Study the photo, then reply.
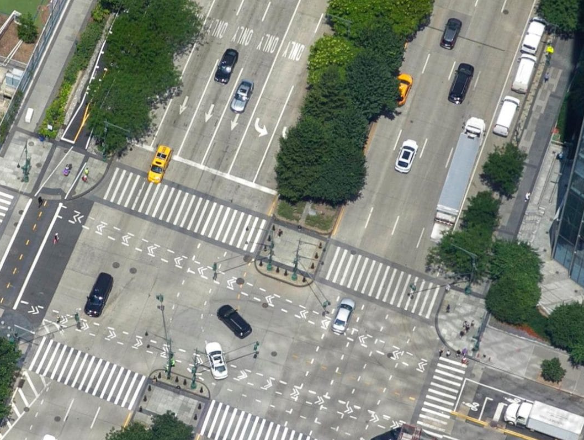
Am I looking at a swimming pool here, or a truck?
truck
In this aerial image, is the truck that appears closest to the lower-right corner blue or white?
white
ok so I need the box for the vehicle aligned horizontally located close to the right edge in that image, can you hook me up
[502,405,584,440]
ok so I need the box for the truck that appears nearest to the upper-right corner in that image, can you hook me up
[522,17,545,55]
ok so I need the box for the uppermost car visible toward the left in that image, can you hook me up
[215,48,237,86]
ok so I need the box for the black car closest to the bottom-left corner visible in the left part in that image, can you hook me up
[87,272,114,318]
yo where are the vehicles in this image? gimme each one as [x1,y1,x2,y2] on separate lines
[372,426,405,440]
[87,272,114,318]
[522,17,545,55]
[205,344,227,381]
[493,96,518,138]
[431,121,485,244]
[217,305,252,340]
[331,299,353,335]
[510,54,535,94]
[448,63,473,106]
[396,141,416,175]
[440,19,461,51]
[397,76,414,108]
[215,48,237,86]
[502,405,584,440]
[148,145,171,183]
[232,79,254,114]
